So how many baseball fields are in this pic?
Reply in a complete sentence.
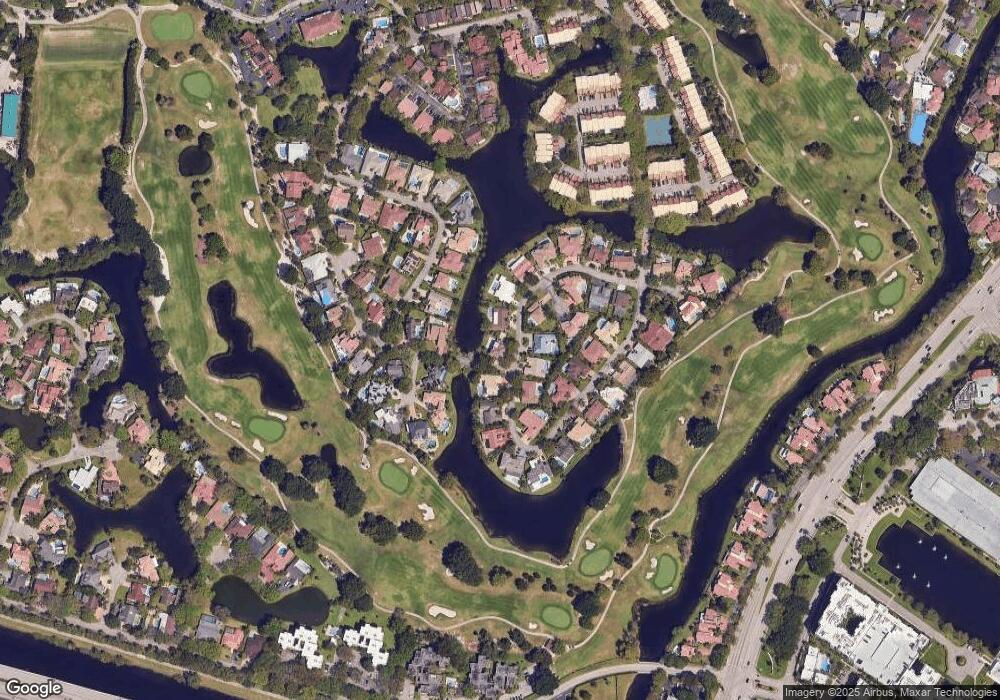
The photo contains no baseball fields.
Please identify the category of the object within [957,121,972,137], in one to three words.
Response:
swimming pool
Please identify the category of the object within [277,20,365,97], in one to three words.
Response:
pond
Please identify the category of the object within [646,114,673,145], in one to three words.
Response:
tennis court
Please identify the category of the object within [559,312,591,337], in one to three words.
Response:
house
